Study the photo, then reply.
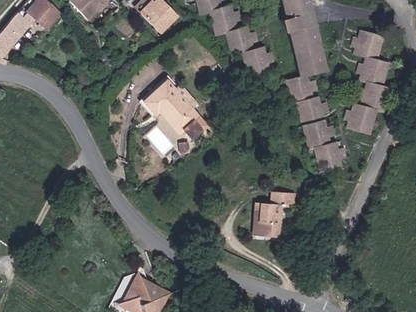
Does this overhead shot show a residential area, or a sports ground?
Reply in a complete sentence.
This image shows a residential area.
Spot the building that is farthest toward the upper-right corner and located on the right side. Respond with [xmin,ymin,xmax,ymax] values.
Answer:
[350,30,384,59]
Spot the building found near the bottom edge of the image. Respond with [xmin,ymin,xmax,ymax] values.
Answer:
[109,269,172,312]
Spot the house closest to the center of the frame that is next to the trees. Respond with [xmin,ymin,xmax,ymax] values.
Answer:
[144,79,211,164]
